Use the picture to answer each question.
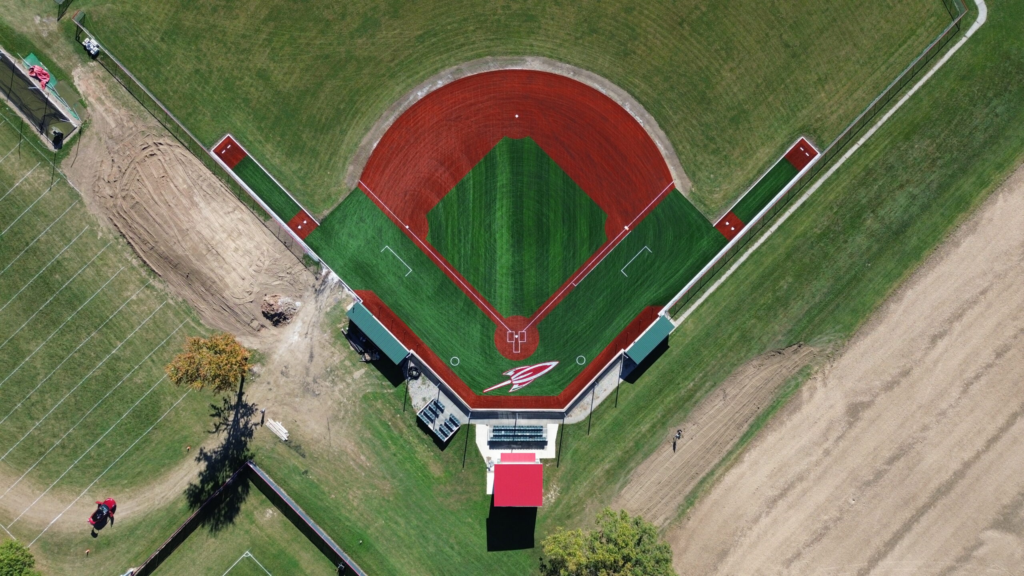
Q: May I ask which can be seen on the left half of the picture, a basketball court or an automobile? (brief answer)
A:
automobile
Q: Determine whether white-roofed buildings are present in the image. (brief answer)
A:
No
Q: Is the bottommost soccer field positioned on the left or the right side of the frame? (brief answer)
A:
left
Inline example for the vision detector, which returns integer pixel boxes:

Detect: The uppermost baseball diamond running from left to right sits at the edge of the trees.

[78,0,962,409]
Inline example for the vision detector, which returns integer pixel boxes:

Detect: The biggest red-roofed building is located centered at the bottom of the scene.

[494,450,543,507]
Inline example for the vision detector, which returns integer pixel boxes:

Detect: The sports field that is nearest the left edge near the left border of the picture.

[0,112,231,549]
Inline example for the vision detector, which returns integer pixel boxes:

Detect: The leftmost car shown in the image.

[89,498,115,525]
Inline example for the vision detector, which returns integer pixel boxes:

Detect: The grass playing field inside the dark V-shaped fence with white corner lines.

[135,465,358,576]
